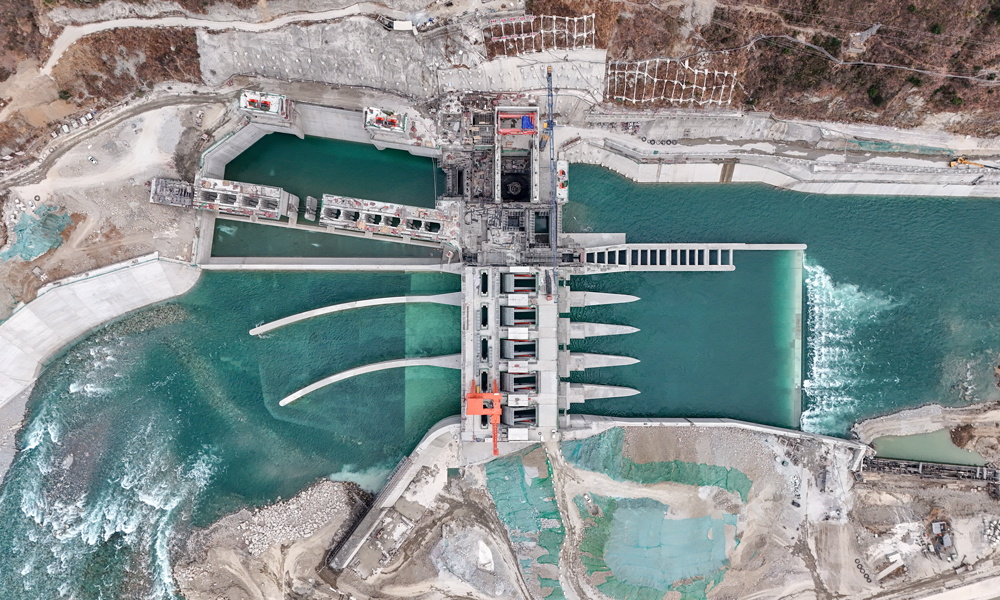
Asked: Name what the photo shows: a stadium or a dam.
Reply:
dam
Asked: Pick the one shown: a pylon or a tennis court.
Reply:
pylon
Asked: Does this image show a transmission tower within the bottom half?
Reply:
No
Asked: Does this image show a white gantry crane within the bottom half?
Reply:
No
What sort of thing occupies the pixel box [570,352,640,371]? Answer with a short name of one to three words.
pier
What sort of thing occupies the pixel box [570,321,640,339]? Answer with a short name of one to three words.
pier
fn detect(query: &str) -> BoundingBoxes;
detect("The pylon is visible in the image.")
[849,16,889,51]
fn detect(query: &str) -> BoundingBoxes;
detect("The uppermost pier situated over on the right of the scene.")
[570,290,640,307]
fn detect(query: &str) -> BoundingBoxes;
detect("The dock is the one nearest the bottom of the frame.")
[570,382,640,404]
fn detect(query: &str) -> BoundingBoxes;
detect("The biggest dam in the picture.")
[461,266,640,442]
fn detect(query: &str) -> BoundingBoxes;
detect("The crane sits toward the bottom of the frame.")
[466,378,502,456]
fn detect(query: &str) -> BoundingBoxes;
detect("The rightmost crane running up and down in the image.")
[541,68,558,254]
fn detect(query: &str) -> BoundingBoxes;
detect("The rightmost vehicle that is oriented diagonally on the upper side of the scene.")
[195,128,211,145]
